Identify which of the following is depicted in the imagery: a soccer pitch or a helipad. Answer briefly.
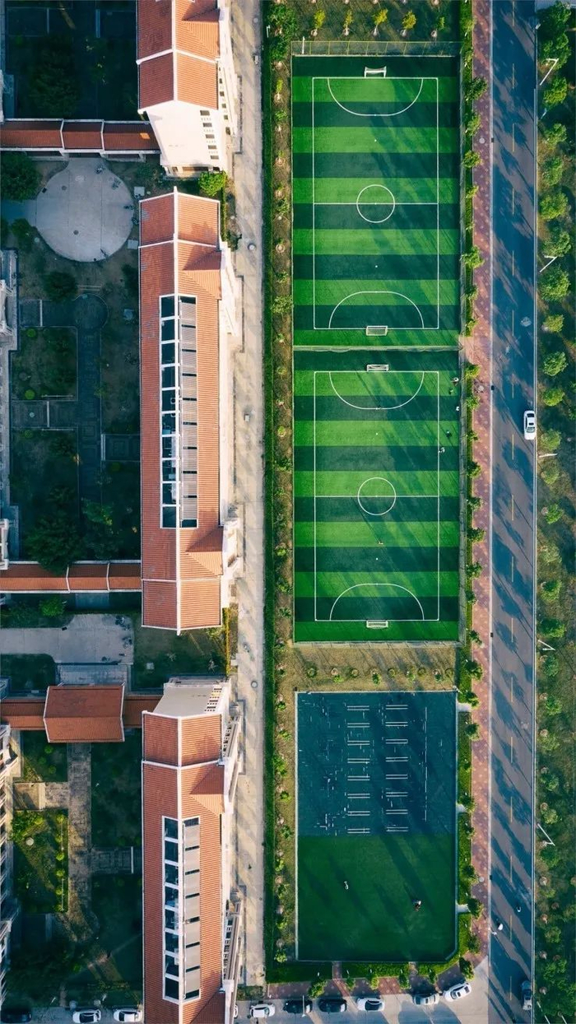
soccer pitch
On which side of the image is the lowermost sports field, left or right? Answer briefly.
right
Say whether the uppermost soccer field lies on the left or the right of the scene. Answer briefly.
right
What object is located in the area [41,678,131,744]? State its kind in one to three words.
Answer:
building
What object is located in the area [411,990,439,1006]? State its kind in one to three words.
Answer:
car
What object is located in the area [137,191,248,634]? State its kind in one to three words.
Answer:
building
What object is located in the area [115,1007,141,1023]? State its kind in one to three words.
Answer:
car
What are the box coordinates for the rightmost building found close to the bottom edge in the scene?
[140,670,250,1024]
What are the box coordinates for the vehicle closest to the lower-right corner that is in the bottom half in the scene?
[521,979,535,1009]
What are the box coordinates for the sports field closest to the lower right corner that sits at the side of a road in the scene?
[294,689,461,962]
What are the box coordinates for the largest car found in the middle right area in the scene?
[522,411,534,439]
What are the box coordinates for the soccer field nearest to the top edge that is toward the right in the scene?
[294,56,459,348]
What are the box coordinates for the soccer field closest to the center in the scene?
[294,349,459,642]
